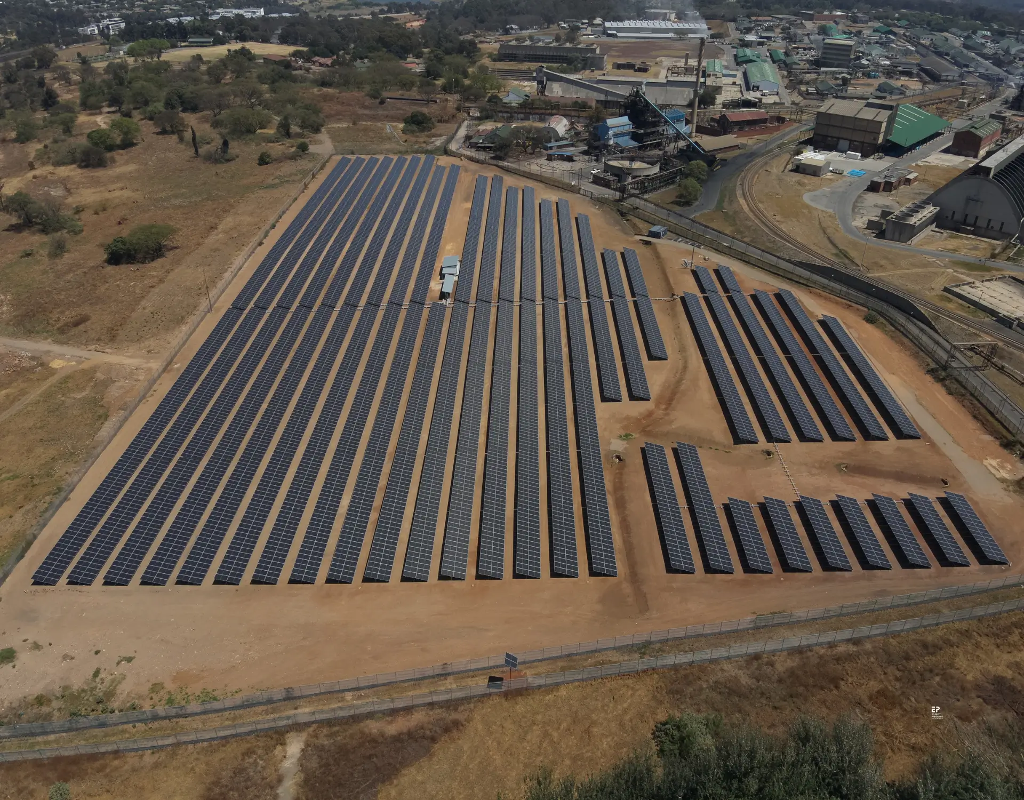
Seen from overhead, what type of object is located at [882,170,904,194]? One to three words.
building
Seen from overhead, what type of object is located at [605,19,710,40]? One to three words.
building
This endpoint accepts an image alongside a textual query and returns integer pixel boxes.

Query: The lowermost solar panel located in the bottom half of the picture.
[503,653,516,690]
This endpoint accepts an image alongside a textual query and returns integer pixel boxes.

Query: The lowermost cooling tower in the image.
[886,193,926,244]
